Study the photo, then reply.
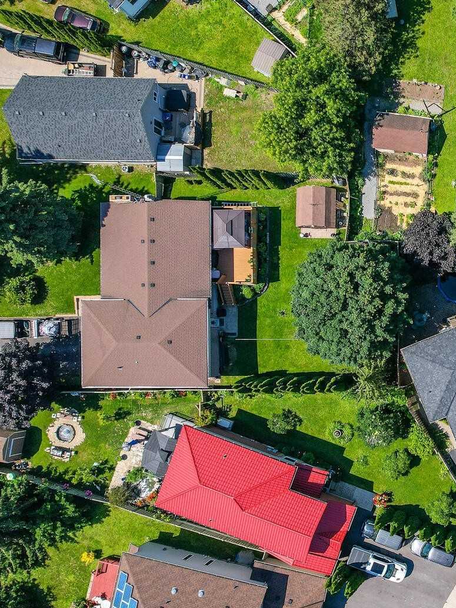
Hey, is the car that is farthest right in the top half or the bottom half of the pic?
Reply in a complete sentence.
The car that is farthest right is in the bottom half of the image.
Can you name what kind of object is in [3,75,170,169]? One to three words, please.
house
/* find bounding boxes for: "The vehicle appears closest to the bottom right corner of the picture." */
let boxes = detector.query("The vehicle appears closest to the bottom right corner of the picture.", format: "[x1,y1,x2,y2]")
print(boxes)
[409,537,456,570]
